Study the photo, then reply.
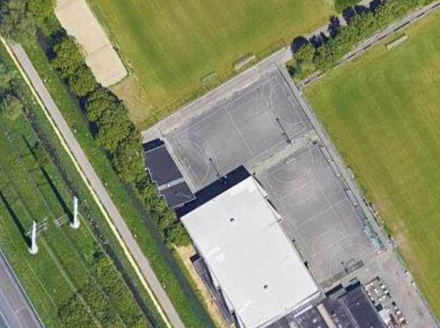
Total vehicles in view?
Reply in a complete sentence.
There are no vehicles in this view.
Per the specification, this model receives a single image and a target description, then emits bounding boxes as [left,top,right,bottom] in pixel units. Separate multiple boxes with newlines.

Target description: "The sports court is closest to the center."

[163,71,315,196]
